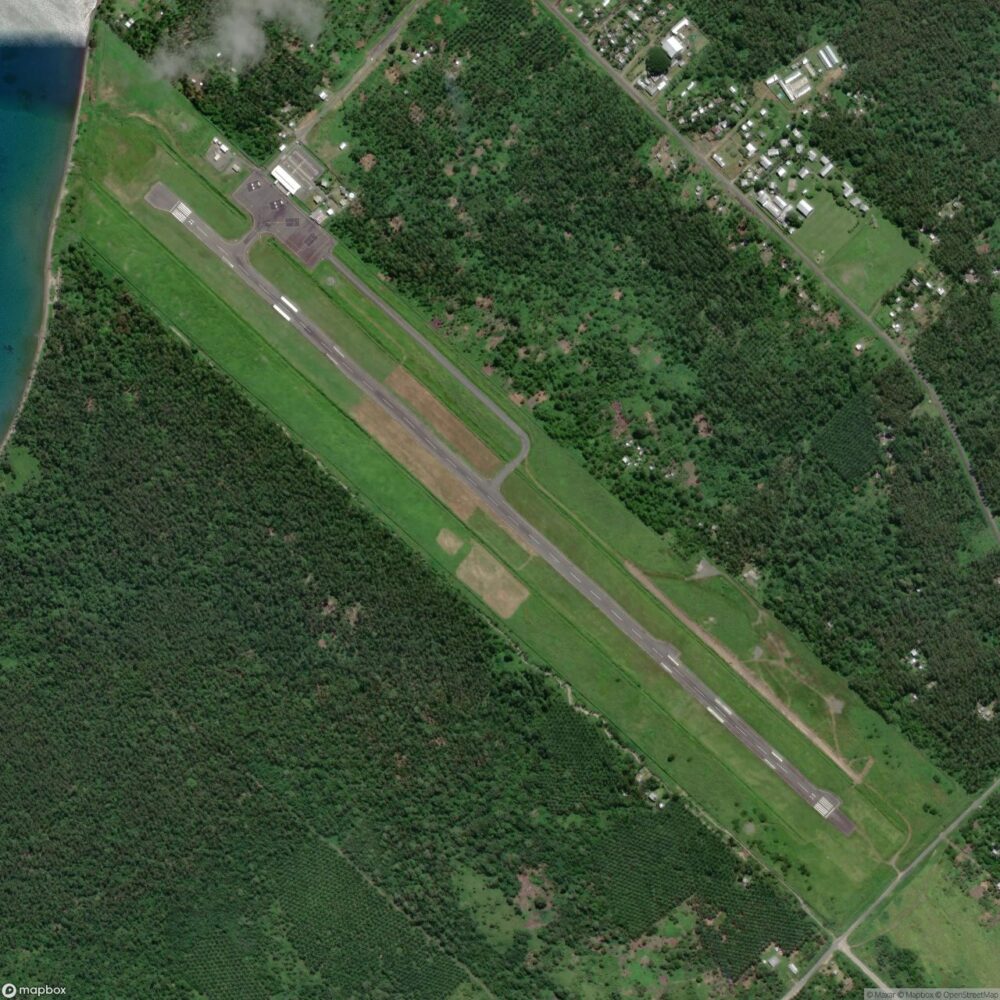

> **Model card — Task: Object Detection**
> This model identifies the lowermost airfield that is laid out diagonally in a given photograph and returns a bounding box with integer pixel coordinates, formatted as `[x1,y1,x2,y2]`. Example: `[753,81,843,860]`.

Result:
[144,143,856,836]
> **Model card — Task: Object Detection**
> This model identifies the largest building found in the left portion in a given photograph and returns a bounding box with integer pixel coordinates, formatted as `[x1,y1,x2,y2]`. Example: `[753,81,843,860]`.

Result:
[271,165,301,196]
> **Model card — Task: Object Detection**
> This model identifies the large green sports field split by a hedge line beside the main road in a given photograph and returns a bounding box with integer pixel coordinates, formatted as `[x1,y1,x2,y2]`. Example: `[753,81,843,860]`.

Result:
[801,191,856,266]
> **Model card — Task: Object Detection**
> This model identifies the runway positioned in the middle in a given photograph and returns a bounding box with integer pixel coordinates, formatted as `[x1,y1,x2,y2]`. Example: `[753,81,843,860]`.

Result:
[144,181,856,836]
